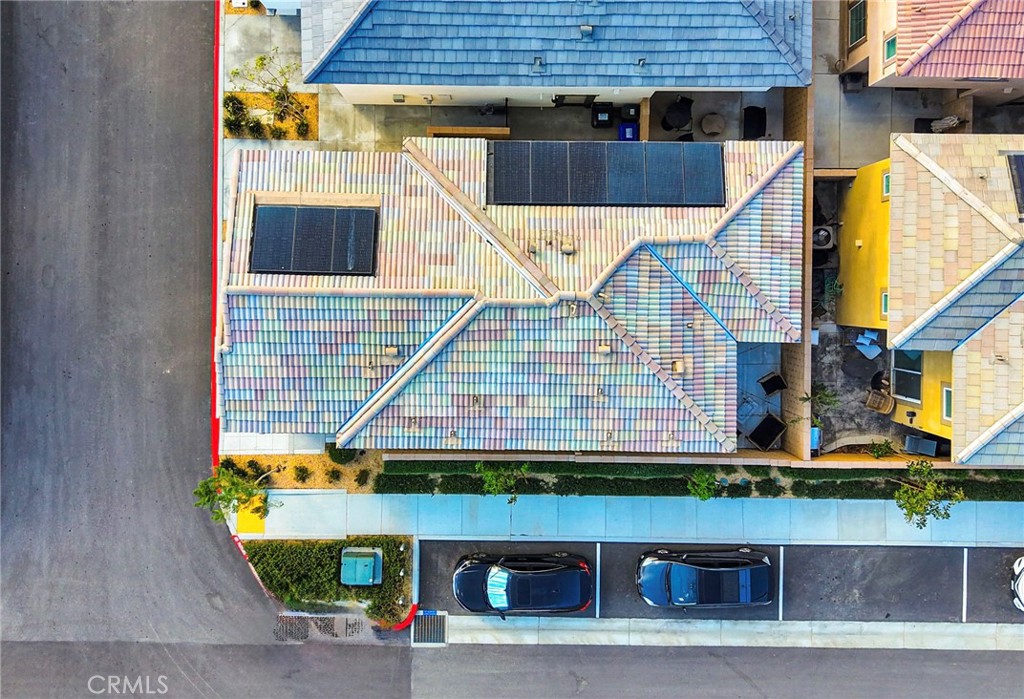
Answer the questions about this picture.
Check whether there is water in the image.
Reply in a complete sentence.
No, the scene doesn't show any water.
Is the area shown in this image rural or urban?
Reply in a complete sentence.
It looks urban.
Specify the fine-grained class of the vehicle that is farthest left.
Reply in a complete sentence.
The vehicle that is farthest left in the image is an automobile.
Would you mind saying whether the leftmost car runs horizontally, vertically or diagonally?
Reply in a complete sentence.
I'd say the leftmost car is aligned horizontally in the picture.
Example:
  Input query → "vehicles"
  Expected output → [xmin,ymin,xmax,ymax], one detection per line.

[635,548,774,618]
[1006,552,1024,610]
[454,549,593,620]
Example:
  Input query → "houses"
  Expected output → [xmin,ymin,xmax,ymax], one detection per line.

[303,0,813,106]
[216,134,806,454]
[844,0,1024,104]
[831,132,1024,465]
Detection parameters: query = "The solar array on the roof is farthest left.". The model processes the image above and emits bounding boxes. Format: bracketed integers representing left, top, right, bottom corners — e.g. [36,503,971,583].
[248,189,384,275]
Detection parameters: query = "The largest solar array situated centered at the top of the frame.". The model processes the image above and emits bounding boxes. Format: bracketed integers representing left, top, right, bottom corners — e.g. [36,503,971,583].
[483,138,728,209]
